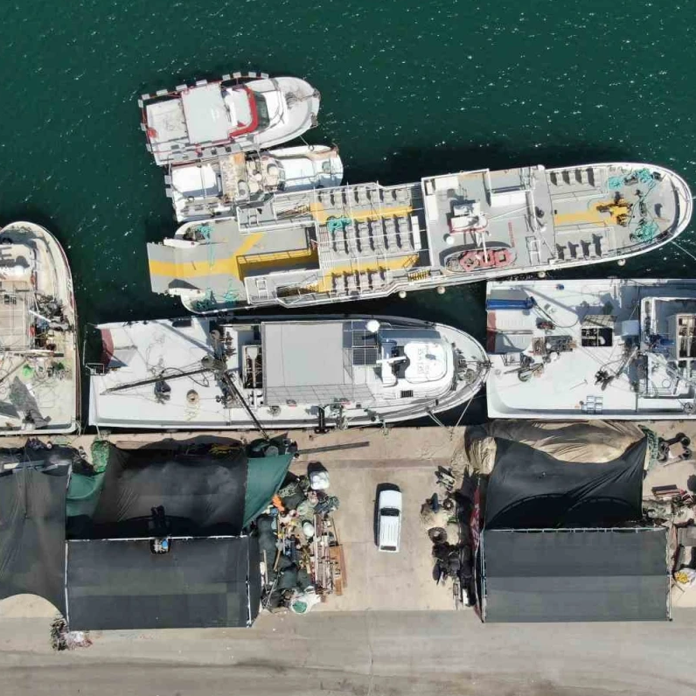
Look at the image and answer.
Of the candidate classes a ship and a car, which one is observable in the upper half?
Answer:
ship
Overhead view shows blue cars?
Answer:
No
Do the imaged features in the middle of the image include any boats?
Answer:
Yes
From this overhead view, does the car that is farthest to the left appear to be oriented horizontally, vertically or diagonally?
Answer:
vertically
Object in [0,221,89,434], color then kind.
white boat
